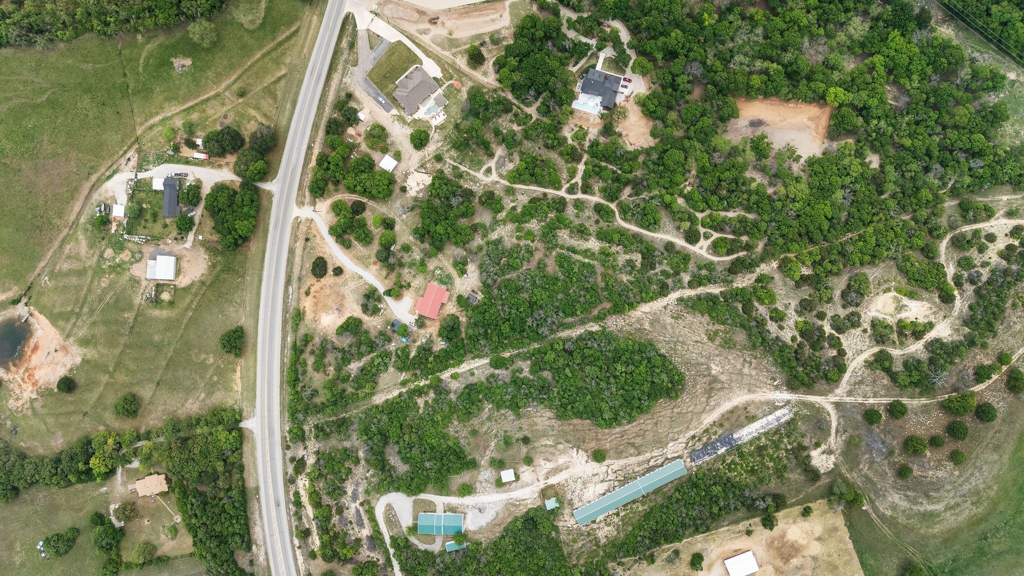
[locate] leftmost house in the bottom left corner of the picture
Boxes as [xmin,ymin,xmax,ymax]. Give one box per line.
[136,474,169,497]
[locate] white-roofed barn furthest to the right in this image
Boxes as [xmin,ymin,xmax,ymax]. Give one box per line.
[722,548,759,576]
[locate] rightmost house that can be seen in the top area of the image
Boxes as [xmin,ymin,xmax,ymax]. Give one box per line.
[581,68,623,113]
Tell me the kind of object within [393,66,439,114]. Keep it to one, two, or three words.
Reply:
house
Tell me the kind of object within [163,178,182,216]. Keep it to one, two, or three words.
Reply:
house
